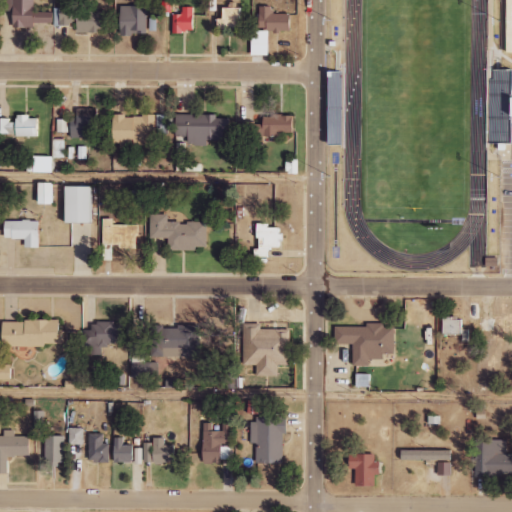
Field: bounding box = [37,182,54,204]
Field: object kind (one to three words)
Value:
shed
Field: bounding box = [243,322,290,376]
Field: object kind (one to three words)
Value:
house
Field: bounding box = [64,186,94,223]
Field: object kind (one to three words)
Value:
building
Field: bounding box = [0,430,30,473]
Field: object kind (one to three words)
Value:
house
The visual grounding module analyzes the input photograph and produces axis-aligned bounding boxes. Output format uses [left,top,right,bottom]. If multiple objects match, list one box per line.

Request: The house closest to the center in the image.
[254,224,282,262]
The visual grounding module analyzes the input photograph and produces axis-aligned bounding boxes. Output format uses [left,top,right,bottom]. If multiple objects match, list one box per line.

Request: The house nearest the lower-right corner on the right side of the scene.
[481,440,512,474]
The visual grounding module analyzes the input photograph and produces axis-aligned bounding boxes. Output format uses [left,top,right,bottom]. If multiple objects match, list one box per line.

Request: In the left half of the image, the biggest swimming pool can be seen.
[44,356,68,381]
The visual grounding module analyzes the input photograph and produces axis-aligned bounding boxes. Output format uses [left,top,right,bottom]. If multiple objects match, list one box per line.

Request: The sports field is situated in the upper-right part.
[362,0,470,254]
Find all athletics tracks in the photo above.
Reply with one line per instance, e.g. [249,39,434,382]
[345,0,486,270]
